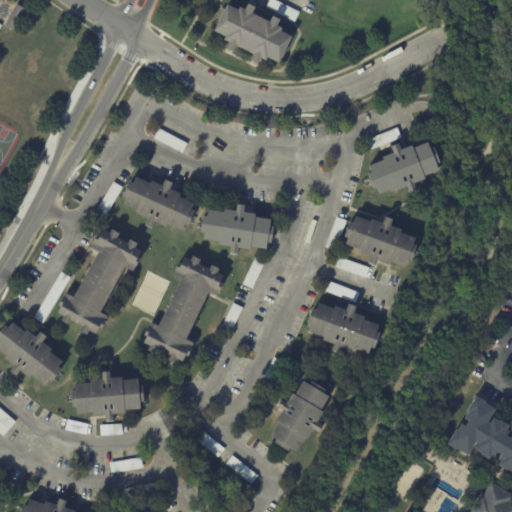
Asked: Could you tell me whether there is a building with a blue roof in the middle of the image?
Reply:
No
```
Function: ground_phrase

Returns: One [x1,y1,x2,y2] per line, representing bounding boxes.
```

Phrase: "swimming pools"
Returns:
[438,480,464,500]
[437,497,458,512]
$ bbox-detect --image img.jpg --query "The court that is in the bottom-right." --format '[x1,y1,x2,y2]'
[397,464,424,500]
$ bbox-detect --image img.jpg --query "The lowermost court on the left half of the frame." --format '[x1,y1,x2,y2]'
[132,270,170,316]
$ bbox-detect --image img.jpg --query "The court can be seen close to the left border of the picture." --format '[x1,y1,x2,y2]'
[0,120,24,175]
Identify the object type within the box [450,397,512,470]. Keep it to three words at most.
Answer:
building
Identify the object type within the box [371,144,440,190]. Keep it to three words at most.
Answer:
building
